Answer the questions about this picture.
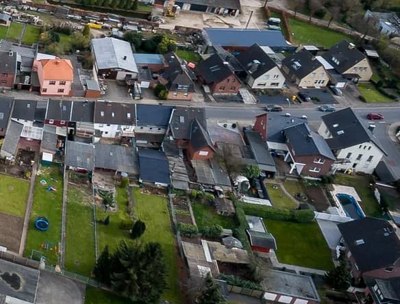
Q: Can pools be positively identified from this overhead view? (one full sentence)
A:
Yes, the frame does contain a pool.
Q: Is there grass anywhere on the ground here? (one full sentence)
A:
Yes, the picture does contain grass.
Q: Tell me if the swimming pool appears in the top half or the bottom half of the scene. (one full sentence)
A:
The swimming pool sits in the bottom half of the picture.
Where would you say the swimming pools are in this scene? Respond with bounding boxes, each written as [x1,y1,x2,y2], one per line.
[335,189,368,222]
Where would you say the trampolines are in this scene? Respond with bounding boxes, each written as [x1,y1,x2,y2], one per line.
[33,215,51,230]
